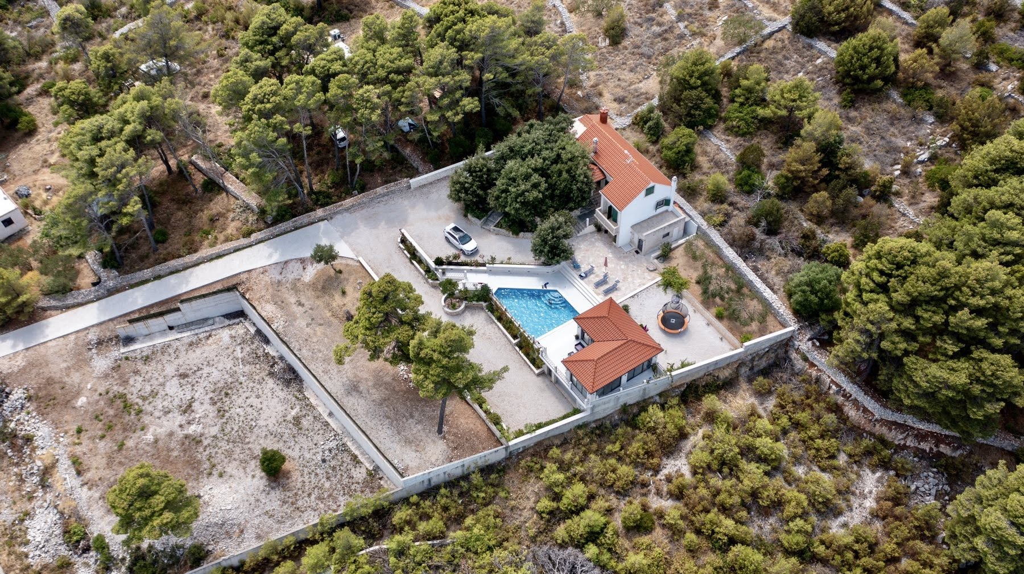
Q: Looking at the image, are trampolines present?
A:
Yes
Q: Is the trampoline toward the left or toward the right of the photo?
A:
right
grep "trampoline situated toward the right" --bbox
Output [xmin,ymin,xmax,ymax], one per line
[656,295,691,338]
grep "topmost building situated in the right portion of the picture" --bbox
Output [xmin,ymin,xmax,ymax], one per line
[562,112,691,254]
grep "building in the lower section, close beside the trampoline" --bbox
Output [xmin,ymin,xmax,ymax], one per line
[560,296,666,406]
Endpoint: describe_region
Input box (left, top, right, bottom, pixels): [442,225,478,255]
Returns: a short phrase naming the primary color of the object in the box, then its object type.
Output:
white car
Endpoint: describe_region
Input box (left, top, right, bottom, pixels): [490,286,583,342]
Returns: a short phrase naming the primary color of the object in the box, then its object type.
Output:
blue swimming pool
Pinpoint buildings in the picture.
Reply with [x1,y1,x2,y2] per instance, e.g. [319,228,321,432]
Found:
[562,112,691,254]
[560,296,666,406]
[0,185,23,234]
